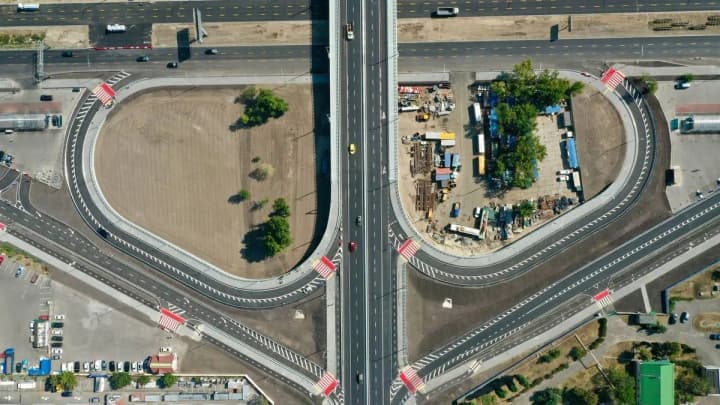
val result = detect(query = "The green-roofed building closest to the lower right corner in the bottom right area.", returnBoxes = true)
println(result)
[634,360,674,405]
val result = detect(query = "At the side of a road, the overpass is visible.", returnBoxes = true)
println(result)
[326,0,417,405]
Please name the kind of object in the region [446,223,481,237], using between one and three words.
vehicle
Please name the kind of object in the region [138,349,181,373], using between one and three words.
building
